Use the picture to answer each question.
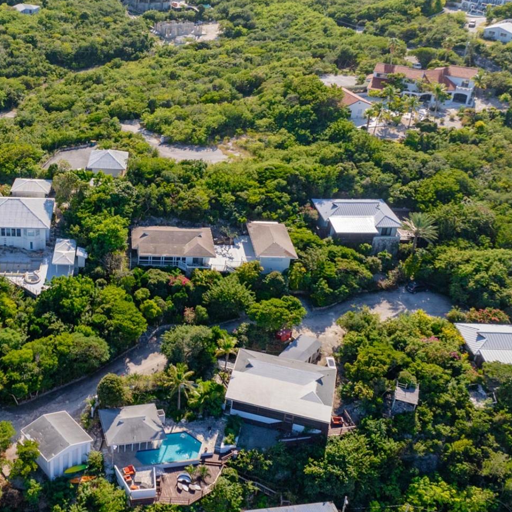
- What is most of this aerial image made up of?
trees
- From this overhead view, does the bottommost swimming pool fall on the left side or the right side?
left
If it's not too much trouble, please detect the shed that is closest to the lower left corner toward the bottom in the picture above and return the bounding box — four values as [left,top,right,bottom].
[25,409,93,478]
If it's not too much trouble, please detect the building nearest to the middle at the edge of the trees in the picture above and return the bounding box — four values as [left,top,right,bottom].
[248,221,298,271]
